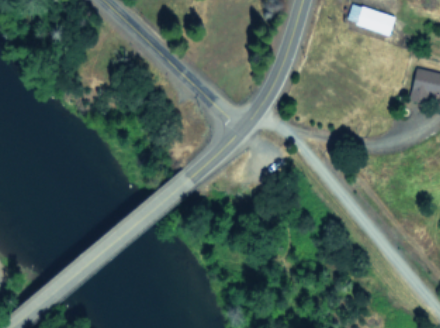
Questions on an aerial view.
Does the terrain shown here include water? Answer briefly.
Yes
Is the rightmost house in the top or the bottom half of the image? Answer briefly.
top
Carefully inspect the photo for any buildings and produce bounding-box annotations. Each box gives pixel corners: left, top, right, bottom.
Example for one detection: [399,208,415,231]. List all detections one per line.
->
[348,2,396,35]
[410,65,440,100]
